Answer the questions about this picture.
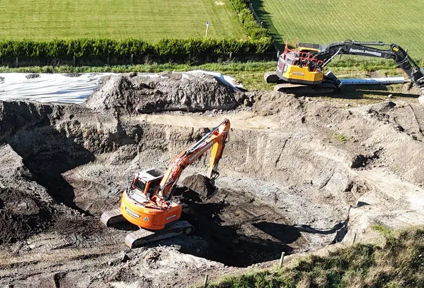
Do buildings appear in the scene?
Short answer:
No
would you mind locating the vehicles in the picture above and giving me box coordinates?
[266,35,424,98]
[101,112,236,253]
